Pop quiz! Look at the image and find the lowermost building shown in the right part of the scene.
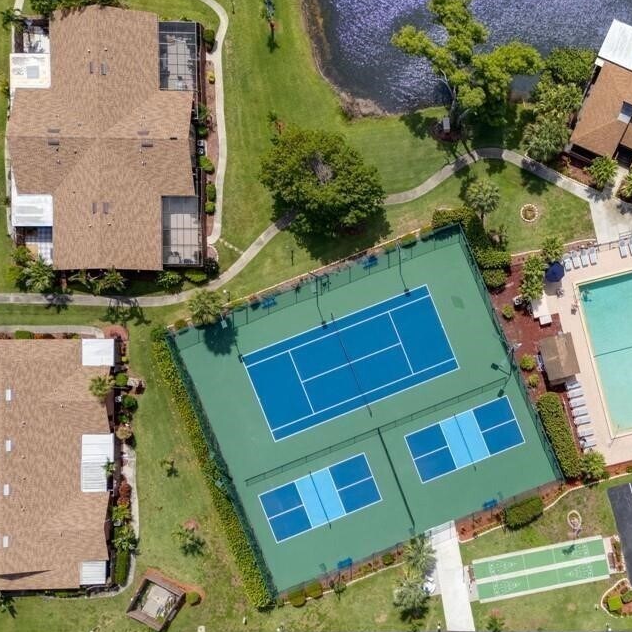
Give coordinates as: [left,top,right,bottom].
[540,333,580,384]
